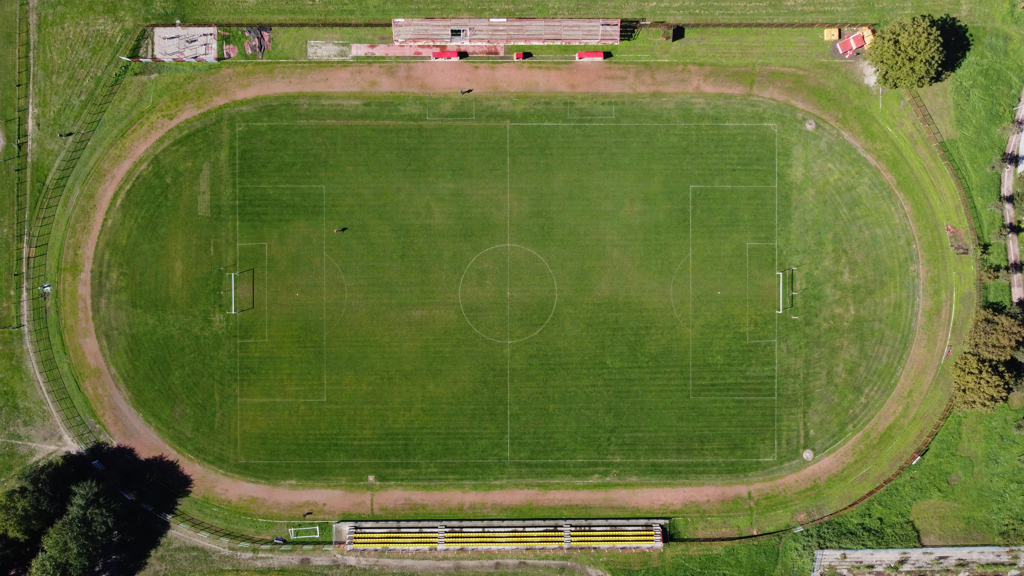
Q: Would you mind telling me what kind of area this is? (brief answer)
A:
sports ground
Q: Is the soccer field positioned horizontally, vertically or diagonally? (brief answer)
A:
horizontally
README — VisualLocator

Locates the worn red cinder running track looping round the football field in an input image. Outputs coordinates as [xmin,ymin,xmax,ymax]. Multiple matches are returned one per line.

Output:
[54,60,973,522]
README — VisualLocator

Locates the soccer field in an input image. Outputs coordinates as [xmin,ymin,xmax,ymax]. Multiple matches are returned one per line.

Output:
[92,99,918,483]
